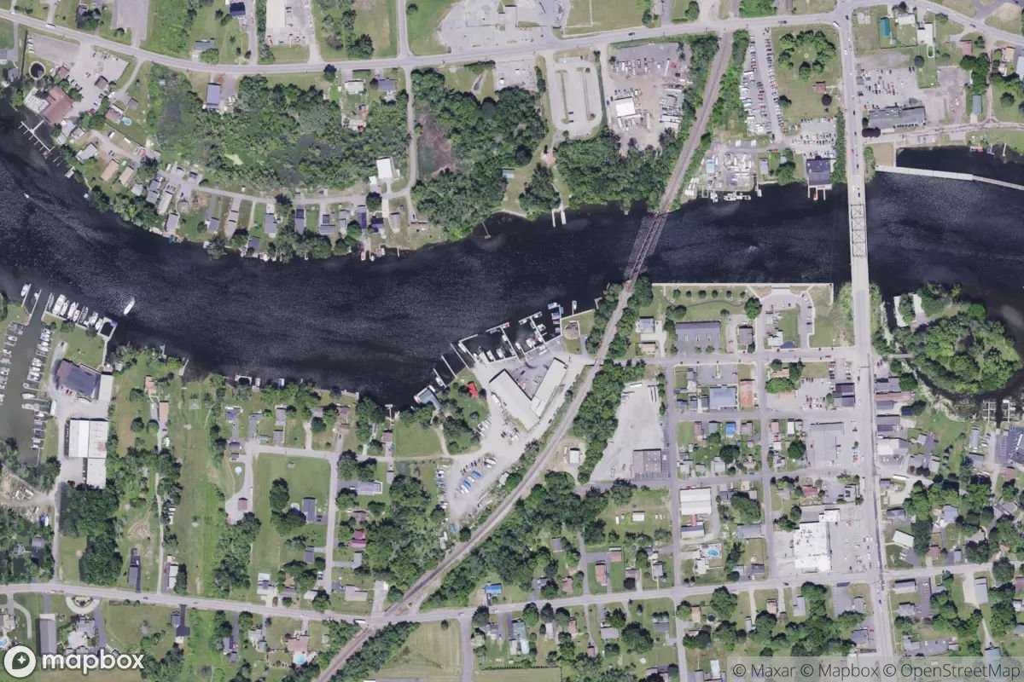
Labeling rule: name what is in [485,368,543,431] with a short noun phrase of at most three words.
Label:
building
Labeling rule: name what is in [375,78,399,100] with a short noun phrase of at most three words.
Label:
house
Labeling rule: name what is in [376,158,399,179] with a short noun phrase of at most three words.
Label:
barn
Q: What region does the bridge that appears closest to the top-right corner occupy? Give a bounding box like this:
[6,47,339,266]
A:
[848,179,871,285]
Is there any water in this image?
Yes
